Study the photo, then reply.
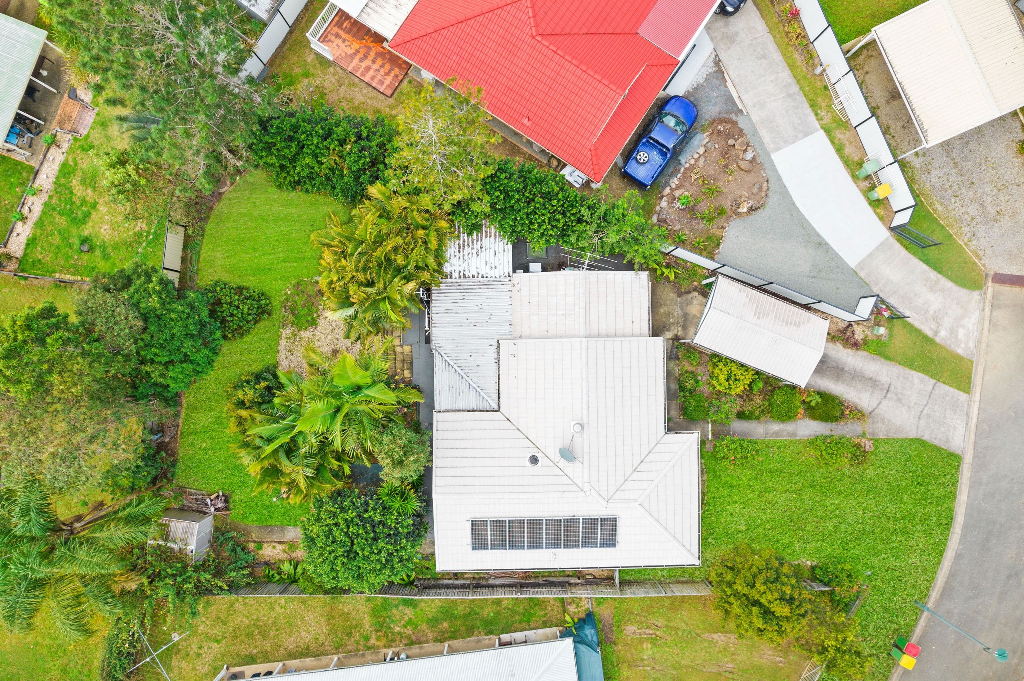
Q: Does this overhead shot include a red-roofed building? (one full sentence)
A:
Yes, a red-roofed building can be made out from above.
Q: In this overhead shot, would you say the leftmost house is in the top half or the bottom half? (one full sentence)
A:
Seen from above, the leftmost house lies in the top half of the view.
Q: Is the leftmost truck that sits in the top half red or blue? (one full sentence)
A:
From above, the leftmost truck that sits in the top half appears blue.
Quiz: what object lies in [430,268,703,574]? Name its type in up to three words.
house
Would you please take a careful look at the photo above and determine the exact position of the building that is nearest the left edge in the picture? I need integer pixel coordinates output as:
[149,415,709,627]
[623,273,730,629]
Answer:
[0,11,65,155]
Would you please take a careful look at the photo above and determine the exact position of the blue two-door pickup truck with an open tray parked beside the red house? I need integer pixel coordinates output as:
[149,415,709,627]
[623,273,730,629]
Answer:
[620,93,697,193]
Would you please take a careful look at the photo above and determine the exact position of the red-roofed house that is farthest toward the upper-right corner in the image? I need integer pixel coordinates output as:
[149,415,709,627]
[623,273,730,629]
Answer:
[387,0,681,184]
